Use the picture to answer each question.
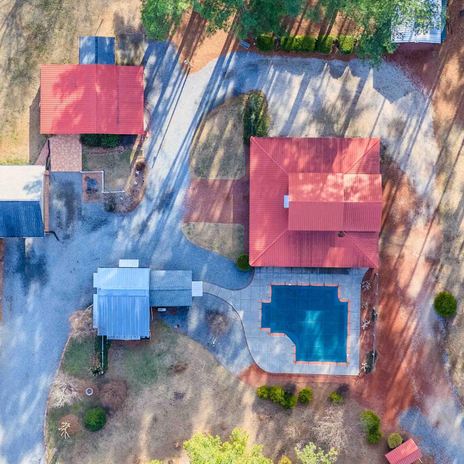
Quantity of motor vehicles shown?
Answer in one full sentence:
I count no motor vehicles.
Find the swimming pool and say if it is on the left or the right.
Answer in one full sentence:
The swimming pool is on the right side of the image.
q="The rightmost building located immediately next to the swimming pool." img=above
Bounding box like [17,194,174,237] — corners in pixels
[250,136,384,268]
